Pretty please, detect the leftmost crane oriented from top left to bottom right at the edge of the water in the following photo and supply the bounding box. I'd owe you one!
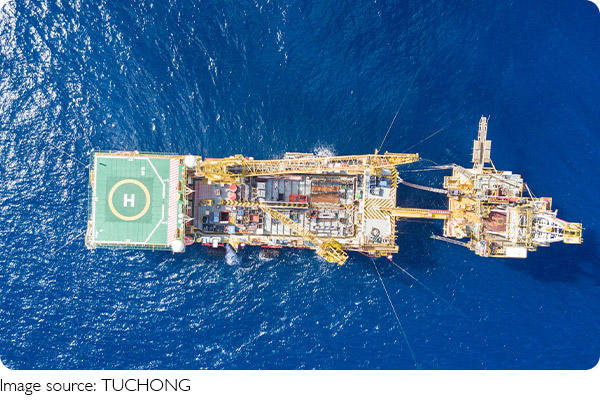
[254,199,350,266]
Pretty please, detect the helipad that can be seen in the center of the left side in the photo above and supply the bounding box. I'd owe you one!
[84,148,188,252]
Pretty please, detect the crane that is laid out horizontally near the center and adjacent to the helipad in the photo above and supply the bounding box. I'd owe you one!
[203,153,422,184]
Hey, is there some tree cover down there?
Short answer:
No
